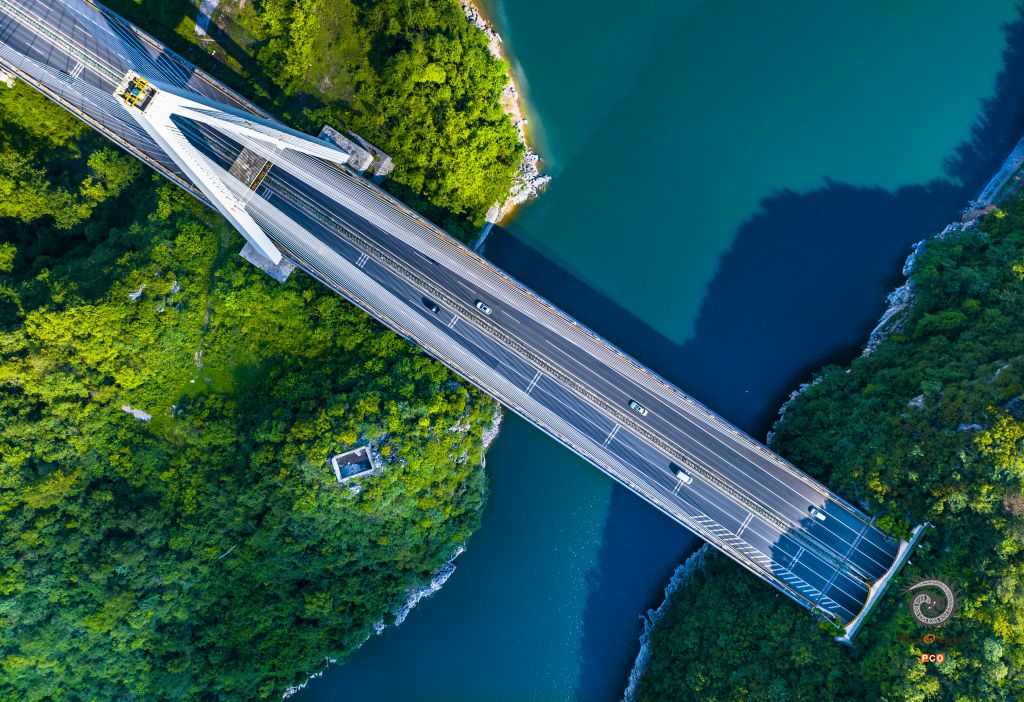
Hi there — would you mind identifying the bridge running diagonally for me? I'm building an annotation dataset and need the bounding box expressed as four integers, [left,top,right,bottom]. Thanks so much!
[0,0,875,611]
